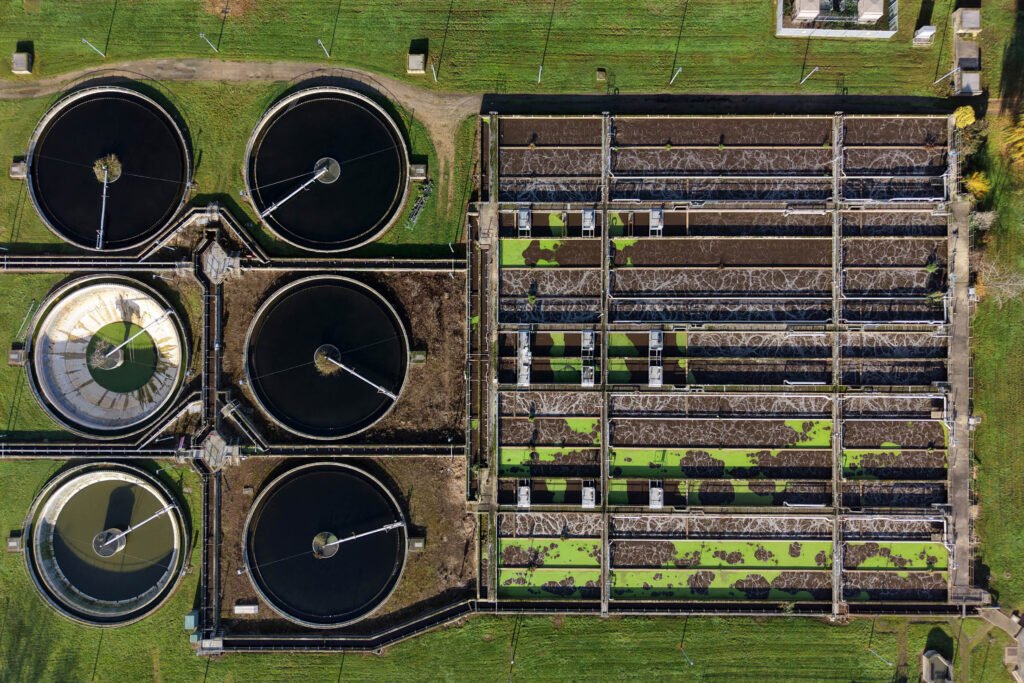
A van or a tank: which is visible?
tank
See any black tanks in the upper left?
Yes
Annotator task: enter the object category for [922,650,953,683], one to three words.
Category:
building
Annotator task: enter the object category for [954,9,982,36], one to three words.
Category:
building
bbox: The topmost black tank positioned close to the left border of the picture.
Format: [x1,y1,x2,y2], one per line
[26,86,192,251]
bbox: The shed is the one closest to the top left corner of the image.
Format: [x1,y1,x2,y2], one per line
[12,53,31,72]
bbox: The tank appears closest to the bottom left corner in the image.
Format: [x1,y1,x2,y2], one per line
[23,462,190,628]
